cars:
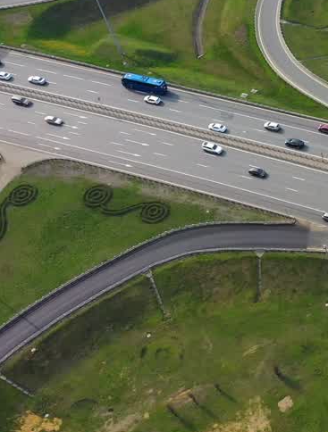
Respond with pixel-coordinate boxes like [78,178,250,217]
[203,143,222,154]
[45,117,62,126]
[318,125,328,133]
[249,167,266,179]
[145,96,162,105]
[209,124,226,133]
[322,214,328,222]
[12,96,30,106]
[286,140,303,150]
[264,123,280,132]
[0,73,11,80]
[30,77,46,85]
